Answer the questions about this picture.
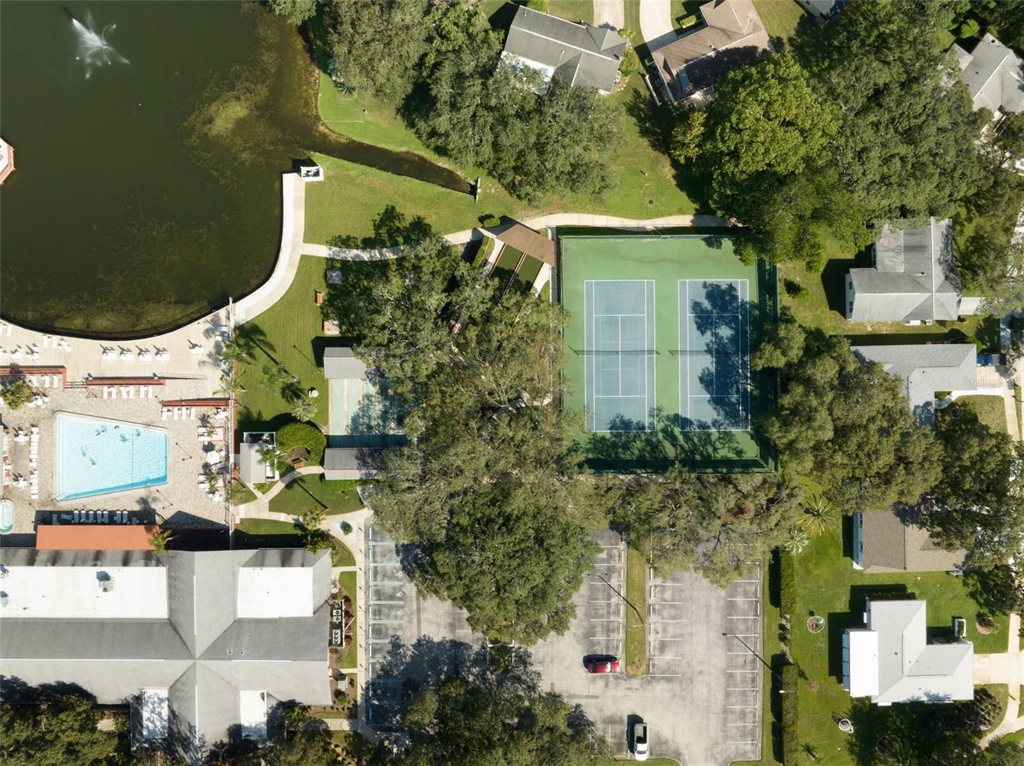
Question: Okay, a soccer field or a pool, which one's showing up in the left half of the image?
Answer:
pool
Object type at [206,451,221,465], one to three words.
umbrella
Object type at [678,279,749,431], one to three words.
tennis court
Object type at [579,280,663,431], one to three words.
tennis court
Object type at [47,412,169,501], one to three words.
swimming pool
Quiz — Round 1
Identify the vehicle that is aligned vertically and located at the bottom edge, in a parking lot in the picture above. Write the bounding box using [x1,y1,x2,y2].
[633,721,649,761]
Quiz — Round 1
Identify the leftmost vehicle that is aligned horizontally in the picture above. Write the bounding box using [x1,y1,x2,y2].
[588,659,619,674]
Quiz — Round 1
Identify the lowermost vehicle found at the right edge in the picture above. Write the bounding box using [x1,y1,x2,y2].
[976,352,1012,368]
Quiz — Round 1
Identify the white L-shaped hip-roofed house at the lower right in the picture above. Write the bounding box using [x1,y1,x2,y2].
[844,598,973,703]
